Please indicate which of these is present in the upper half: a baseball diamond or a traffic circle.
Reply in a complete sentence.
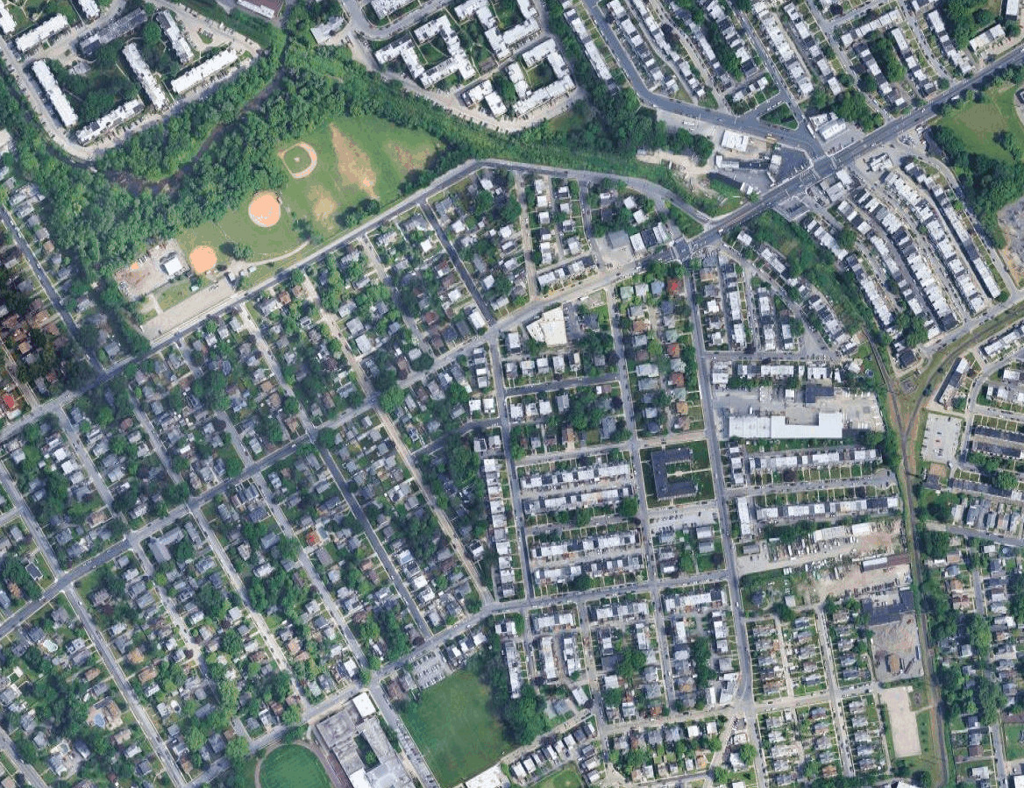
There is a baseball diamond in the upper half.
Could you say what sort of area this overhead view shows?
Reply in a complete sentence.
It's a residential area.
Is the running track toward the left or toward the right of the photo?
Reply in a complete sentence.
The running track appears in the left half of the scene.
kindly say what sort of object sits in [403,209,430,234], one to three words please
house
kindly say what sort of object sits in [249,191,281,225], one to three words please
baseball field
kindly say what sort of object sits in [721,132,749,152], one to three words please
building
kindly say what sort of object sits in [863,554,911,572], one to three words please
shed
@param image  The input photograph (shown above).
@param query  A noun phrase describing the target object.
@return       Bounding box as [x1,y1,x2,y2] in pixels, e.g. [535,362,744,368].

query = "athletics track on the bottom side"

[256,742,334,788]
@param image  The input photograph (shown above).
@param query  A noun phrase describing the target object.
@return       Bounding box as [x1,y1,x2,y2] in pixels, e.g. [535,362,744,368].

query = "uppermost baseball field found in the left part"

[279,142,317,178]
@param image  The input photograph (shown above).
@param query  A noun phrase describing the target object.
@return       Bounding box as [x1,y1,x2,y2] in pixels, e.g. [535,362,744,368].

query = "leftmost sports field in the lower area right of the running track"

[401,670,512,788]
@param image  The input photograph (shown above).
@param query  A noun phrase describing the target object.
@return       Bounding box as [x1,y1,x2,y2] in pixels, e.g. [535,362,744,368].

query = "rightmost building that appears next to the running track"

[317,693,414,788]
